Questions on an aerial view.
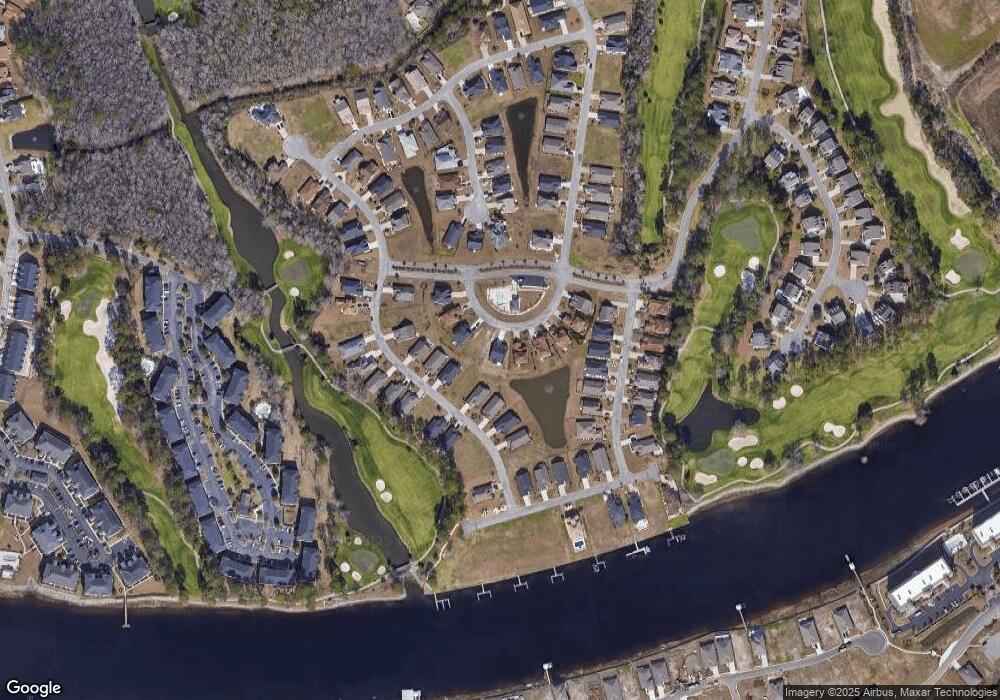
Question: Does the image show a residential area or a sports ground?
residential area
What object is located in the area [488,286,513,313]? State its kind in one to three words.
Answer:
swimming pool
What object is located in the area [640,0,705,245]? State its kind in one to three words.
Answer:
golf course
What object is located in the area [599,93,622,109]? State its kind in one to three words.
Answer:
house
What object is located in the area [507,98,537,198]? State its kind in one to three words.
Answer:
pond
